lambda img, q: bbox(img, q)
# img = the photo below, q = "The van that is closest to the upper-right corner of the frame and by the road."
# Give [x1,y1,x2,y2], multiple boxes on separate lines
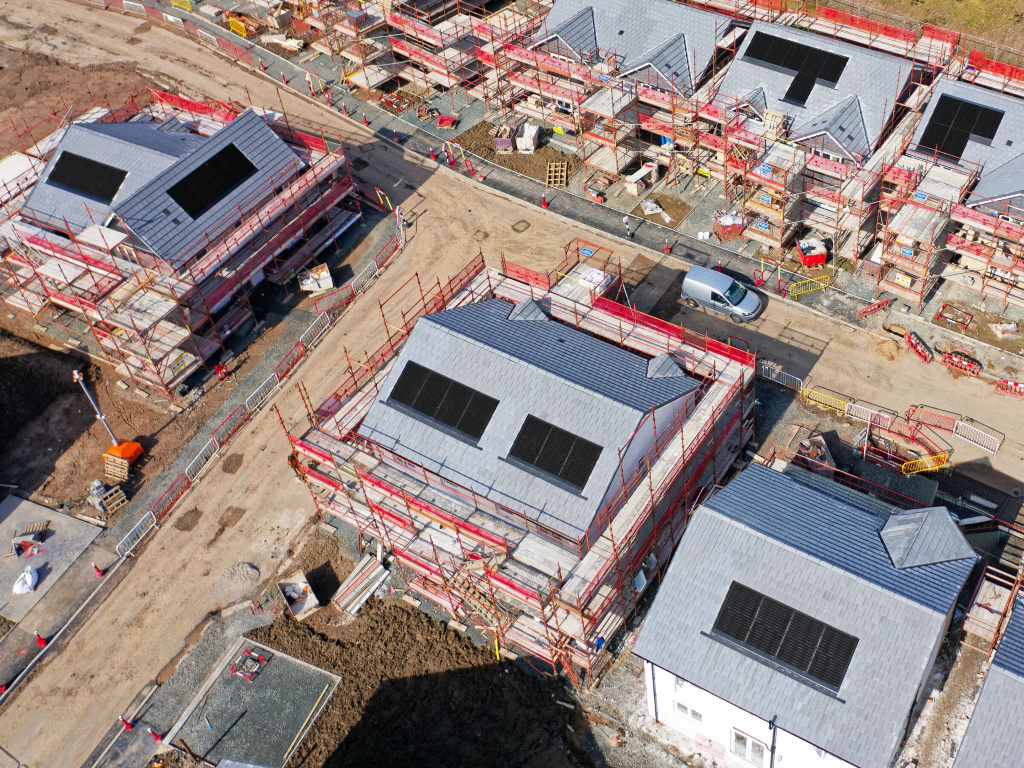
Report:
[679,262,766,324]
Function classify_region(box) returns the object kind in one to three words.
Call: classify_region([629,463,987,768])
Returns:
house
